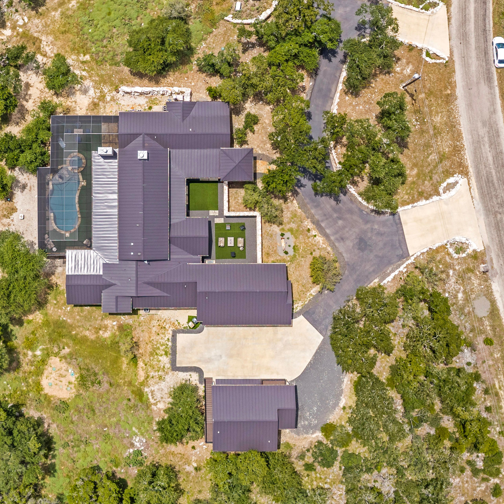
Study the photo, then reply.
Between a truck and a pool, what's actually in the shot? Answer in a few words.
pool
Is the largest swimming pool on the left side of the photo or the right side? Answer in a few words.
left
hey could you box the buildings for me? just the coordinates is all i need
[205,376,296,452]
[65,101,292,325]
